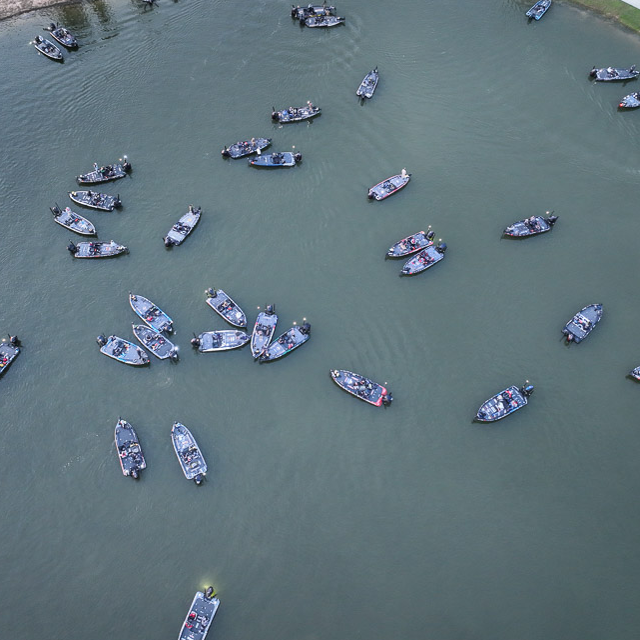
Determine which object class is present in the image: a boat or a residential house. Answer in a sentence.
Looking from above, you can make out a boat.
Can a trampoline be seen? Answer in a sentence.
No, the scene contains no trampoline.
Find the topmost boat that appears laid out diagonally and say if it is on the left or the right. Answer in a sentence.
The topmost boat that appears laid out diagonally sits on the right side.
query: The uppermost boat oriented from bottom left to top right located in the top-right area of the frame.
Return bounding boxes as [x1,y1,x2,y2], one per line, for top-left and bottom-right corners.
[527,0,552,21]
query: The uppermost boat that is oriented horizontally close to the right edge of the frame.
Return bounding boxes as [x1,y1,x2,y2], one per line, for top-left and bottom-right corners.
[594,63,640,82]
